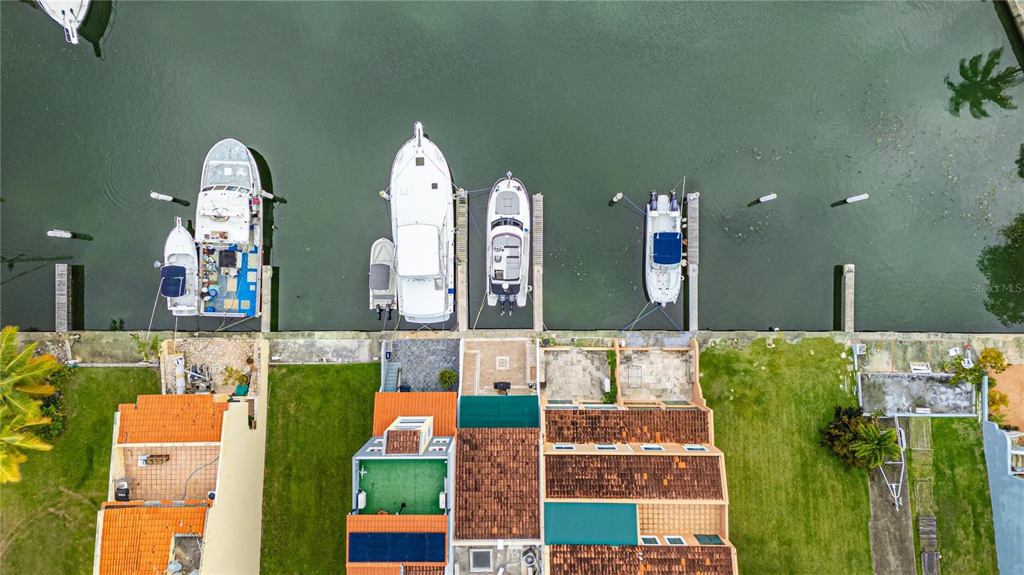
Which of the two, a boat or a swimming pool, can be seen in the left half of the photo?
boat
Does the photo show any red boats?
No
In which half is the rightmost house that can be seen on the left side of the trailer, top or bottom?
bottom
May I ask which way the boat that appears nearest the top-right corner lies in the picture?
up and down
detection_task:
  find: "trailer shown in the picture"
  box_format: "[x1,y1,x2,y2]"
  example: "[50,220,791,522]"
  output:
[875,416,906,513]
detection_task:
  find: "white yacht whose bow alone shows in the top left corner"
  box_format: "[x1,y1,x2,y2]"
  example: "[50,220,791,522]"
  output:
[33,0,100,45]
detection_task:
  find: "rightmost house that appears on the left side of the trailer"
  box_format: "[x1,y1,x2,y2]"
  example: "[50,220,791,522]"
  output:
[540,349,738,575]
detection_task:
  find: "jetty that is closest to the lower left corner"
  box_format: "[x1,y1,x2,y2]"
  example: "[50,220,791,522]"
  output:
[55,264,81,331]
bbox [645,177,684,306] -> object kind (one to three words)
boat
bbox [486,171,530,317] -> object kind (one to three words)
boat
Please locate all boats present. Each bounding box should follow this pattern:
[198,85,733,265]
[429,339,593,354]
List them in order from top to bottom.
[33,0,100,45]
[390,121,455,331]
[194,138,267,316]
[486,171,530,317]
[645,177,684,306]
[153,216,199,315]
[368,238,396,322]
